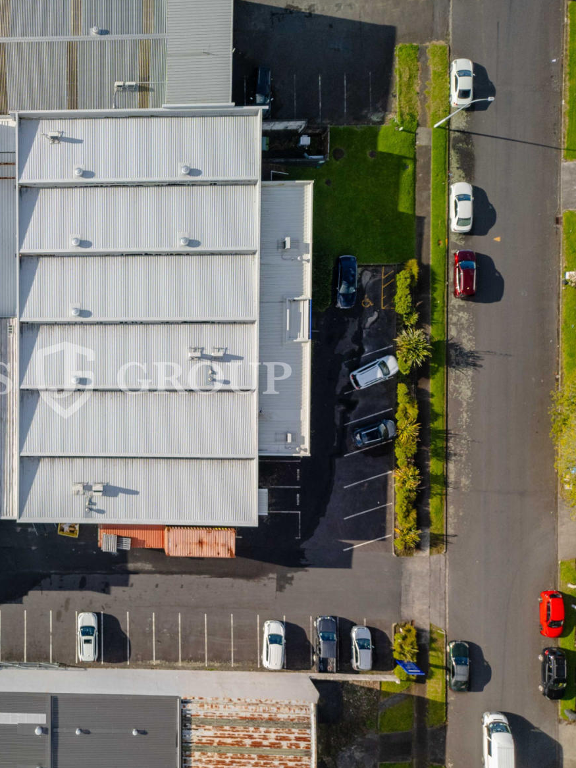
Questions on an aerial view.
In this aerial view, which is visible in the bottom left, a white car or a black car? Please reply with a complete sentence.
What appears in the bottom left is a white car.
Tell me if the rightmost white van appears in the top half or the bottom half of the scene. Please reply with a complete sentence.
The rightmost white van sits in the bottom half of the picture.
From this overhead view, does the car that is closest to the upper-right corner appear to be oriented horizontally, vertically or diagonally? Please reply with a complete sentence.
The car that is closest to the upper-right corner has been laid out vertically relative to the frame.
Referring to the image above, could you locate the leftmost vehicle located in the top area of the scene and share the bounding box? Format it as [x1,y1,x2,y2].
[252,64,277,118]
